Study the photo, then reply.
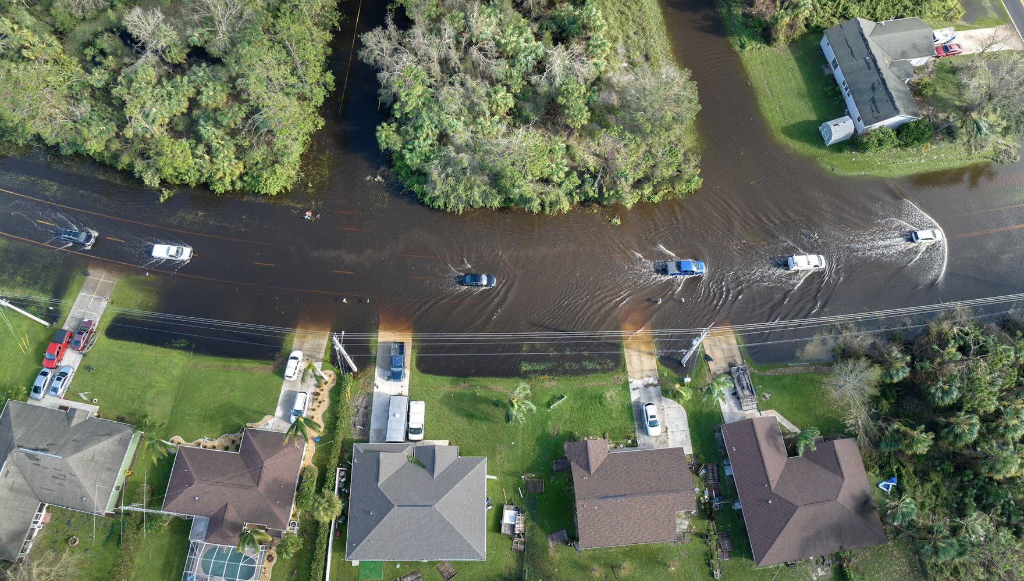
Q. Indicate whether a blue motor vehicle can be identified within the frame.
Yes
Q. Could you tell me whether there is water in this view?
Yes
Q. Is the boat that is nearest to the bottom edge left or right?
left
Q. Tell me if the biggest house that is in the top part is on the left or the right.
right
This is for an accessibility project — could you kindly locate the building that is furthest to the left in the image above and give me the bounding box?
[0,400,138,563]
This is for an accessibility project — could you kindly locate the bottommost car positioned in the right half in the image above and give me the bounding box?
[641,402,661,437]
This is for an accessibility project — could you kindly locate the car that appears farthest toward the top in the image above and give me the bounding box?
[935,44,965,59]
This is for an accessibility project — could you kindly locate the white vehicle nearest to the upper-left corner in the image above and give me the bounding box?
[149,243,195,261]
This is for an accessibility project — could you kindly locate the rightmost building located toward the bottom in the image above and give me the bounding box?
[720,416,888,567]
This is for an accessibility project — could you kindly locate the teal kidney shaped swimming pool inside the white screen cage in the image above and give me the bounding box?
[200,545,257,581]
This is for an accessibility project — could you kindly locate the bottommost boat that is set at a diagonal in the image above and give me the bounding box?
[78,328,100,357]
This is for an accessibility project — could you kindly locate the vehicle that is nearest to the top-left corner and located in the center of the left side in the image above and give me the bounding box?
[58,226,99,246]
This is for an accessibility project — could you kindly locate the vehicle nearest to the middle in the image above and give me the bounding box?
[463,272,496,288]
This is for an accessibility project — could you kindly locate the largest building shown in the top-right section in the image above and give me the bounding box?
[821,17,935,135]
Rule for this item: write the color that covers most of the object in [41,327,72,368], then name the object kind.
red truck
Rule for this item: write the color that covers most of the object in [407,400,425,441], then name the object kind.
white vehicle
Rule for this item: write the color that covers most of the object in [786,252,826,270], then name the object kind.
white vehicle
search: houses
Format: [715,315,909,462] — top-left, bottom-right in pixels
[0,400,138,563]
[346,444,497,560]
[162,428,307,546]
[821,17,935,135]
[567,440,697,550]
[720,416,888,567]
